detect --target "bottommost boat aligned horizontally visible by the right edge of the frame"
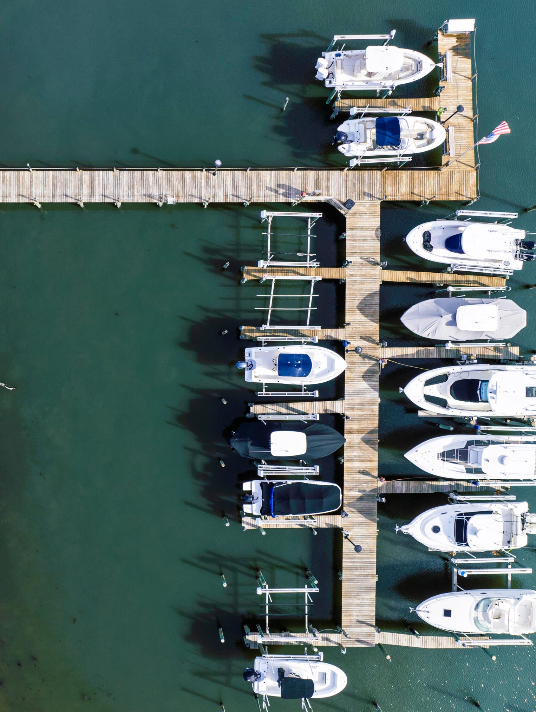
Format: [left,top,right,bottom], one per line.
[409,588,536,636]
